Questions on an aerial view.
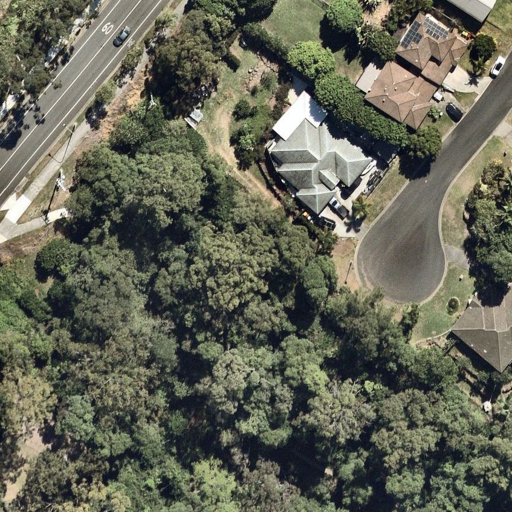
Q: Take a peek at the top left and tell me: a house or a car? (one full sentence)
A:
You can see a car at the top left.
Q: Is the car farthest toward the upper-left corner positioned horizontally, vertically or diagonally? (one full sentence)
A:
The car farthest toward the upper-left corner is oriented diagonally.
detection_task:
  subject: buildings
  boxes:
[271,93,373,215]
[356,62,438,130]
[395,14,468,86]
[445,0,497,24]
[451,287,512,373]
